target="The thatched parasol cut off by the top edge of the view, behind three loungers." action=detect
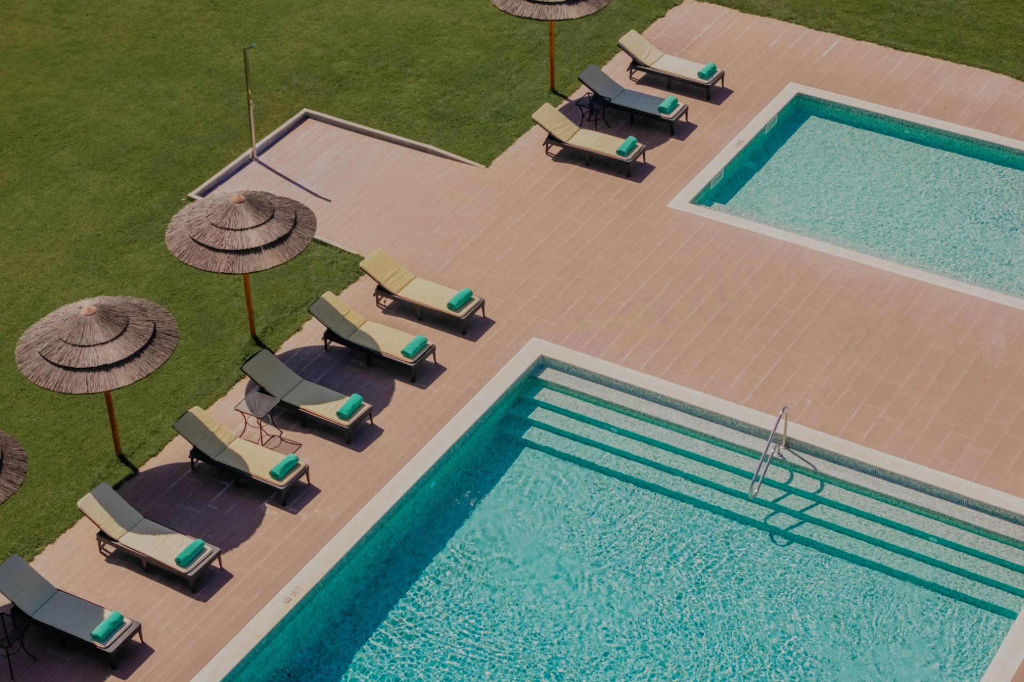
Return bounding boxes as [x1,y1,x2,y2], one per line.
[489,0,609,89]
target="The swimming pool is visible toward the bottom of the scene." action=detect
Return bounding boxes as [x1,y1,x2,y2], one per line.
[190,338,1024,682]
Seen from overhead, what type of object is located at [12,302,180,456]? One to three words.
umbrella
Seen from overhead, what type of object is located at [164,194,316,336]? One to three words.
umbrella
